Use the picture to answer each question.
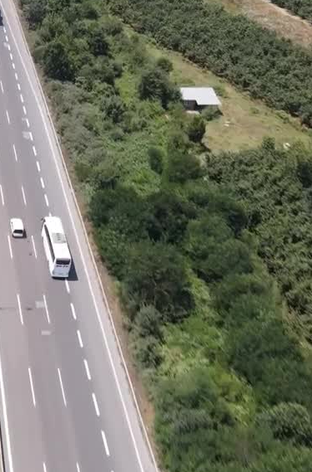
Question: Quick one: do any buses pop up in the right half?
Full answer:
No, no bus can be made out in the right half.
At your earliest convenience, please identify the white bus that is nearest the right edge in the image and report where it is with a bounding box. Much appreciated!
[41,215,71,276]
